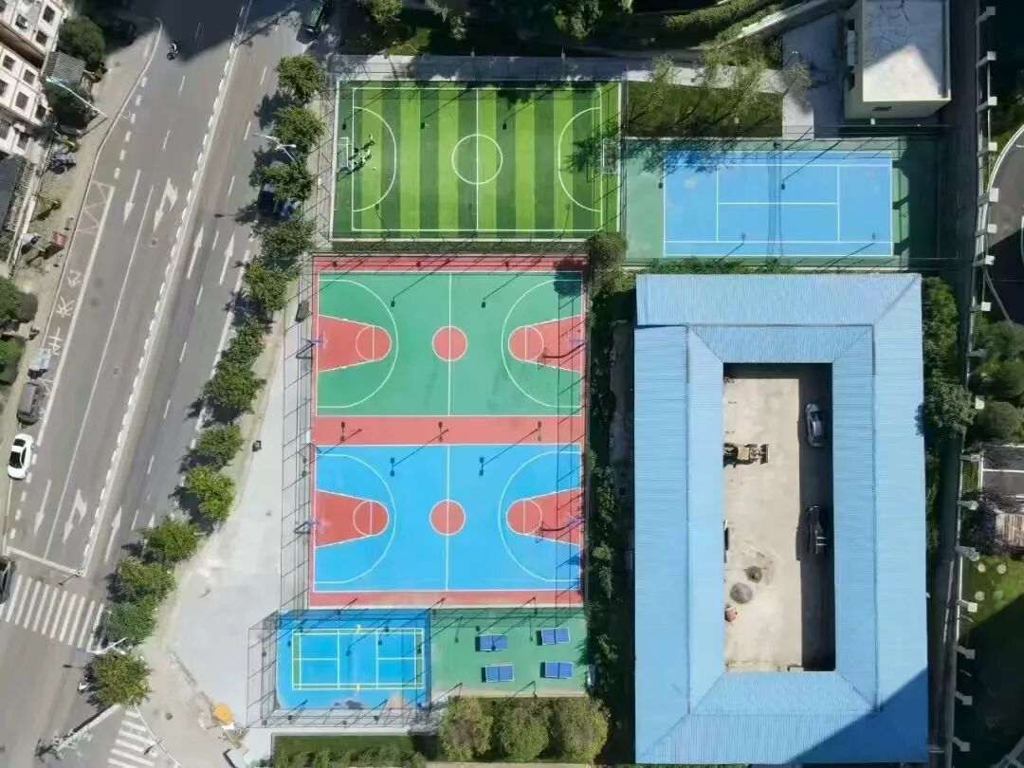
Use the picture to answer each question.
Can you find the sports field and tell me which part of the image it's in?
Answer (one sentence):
The sports field sits in the top section of the image.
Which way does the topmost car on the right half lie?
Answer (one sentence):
Seen from above, the topmost car on the right half lies from top to bottom.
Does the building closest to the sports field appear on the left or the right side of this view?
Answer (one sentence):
You can find the building closest to the sports field on the right side of the picture.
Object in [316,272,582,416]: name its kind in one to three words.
basketball court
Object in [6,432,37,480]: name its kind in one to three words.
car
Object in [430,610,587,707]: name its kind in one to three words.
tennis court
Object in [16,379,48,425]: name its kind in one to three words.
car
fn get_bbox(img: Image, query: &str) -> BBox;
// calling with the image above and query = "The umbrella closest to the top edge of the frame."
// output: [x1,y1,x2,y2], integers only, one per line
[213,700,234,722]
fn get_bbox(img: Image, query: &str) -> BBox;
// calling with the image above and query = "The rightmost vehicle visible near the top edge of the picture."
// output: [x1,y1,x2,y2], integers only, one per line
[296,0,331,44]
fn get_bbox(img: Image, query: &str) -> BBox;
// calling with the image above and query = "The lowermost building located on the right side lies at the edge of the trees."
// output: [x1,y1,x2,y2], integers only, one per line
[634,275,929,765]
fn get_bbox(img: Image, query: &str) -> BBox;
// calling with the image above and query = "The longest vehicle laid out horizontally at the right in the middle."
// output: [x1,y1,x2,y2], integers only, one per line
[724,444,767,463]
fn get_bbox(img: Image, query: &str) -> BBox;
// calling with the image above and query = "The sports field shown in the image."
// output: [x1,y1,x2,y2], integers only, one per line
[335,81,617,237]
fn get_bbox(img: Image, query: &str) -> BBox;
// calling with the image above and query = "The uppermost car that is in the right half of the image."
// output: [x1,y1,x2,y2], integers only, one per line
[803,400,826,445]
